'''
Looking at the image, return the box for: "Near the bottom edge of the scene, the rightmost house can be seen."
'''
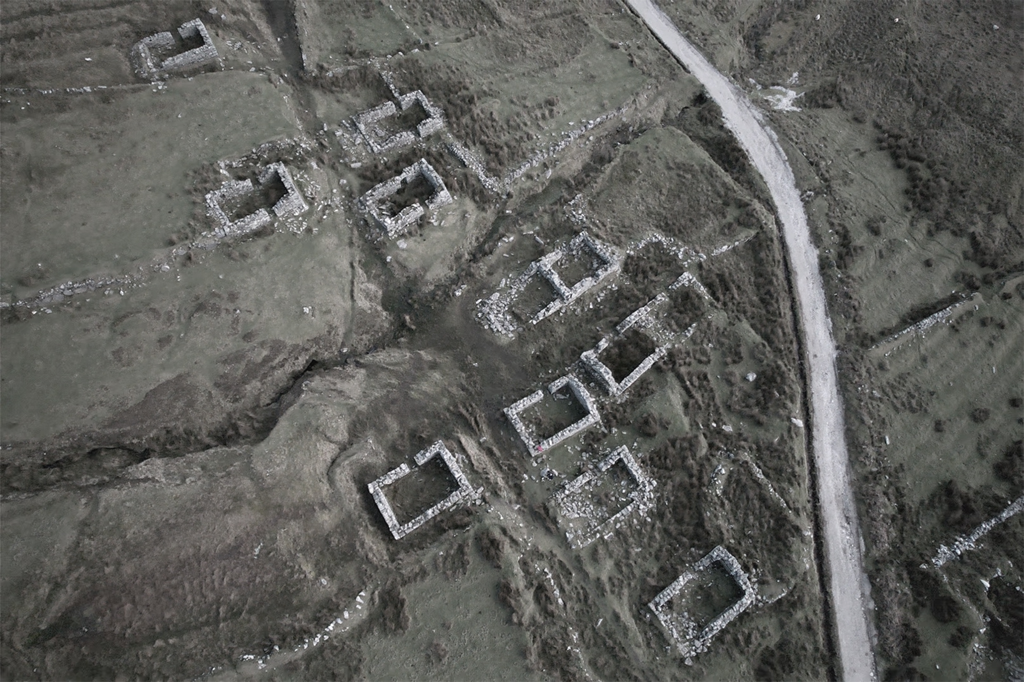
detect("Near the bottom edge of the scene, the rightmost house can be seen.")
[640,543,766,660]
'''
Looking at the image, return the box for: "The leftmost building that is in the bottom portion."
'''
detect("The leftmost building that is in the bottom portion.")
[366,439,483,544]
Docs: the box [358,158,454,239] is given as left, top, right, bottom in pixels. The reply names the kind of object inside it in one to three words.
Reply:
house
